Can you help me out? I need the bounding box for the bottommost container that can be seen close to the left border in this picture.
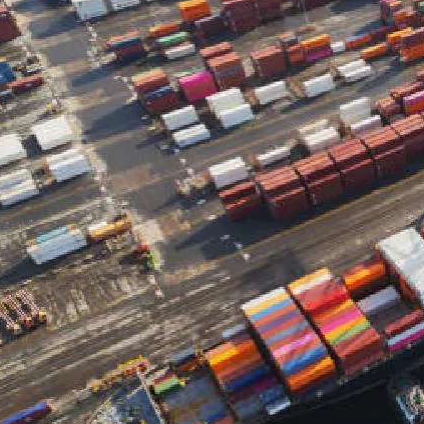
[0,394,55,424]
